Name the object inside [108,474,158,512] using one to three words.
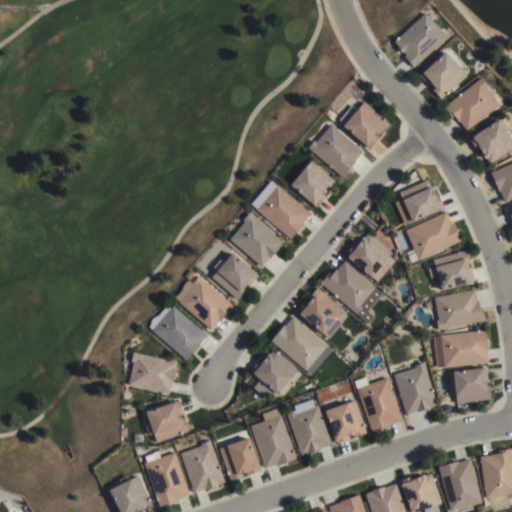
house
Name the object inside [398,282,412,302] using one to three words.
swimming pool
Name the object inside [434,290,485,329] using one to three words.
house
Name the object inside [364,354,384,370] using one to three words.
swimming pool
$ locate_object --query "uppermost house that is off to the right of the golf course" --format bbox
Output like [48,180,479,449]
[394,14,454,67]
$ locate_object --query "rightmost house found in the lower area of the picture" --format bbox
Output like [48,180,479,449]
[478,450,512,512]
